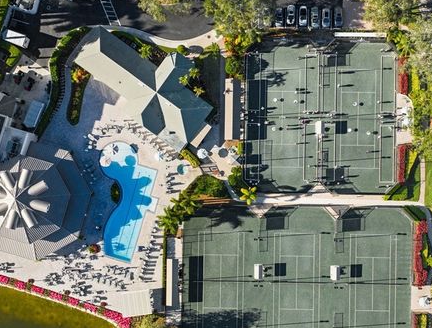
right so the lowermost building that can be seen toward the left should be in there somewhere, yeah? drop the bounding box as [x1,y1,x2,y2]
[103,289,155,319]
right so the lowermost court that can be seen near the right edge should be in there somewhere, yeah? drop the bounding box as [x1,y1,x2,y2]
[336,207,413,328]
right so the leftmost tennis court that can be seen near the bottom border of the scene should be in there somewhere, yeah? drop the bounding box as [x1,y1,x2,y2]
[181,206,260,328]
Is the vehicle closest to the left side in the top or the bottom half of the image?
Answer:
top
